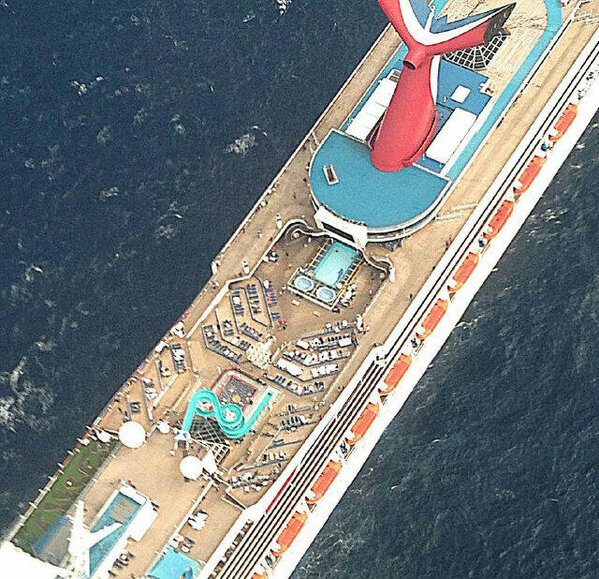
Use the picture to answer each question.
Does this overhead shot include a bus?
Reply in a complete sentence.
No, there appears to be no bus in this shot.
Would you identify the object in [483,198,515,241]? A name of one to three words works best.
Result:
boat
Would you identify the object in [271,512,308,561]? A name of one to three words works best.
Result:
boat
